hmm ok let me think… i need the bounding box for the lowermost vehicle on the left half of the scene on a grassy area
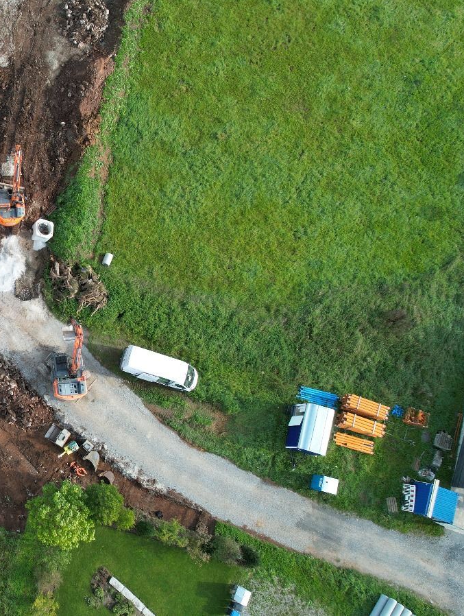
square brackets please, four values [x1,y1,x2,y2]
[119,344,199,389]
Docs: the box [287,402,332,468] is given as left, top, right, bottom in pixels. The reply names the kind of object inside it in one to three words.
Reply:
trailer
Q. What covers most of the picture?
grass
